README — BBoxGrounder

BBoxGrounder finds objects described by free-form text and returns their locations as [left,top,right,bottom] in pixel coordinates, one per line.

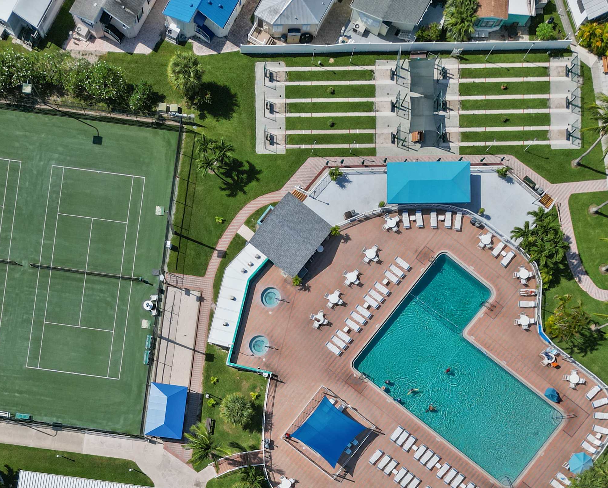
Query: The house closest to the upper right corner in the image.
[555,0,608,39]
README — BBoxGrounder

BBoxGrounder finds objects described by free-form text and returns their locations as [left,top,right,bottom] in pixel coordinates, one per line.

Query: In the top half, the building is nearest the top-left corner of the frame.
[0,0,64,39]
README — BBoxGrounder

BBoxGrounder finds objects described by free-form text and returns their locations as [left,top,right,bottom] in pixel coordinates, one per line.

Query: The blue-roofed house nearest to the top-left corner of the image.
[162,0,243,39]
